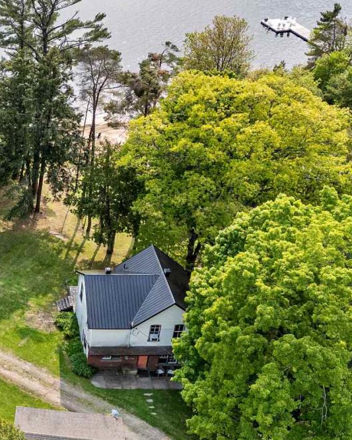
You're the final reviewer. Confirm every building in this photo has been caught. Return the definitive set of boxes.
[13,405,127,440]
[73,243,203,365]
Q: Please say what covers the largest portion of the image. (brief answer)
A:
trees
